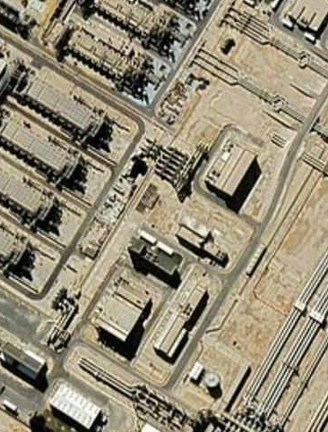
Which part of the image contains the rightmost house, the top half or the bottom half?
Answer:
top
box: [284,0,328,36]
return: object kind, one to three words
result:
house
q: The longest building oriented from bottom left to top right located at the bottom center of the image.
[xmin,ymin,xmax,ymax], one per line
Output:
[153,280,209,356]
